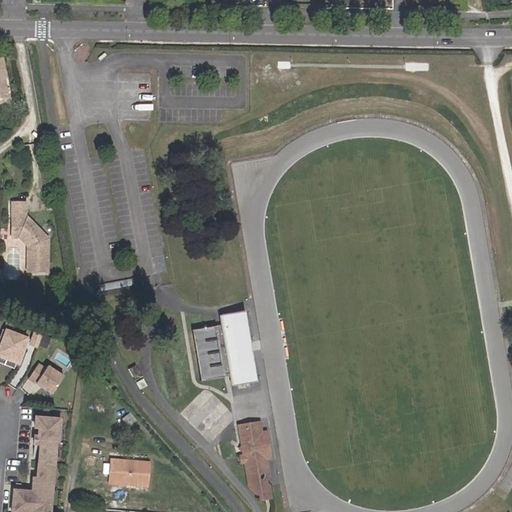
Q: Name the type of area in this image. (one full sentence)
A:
The picture captures a sports ground.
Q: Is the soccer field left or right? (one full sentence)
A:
It is on the right.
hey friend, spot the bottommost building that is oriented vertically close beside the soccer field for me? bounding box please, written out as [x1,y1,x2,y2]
[238,421,279,502]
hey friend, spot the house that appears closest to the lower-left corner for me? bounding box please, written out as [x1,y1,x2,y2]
[10,416,64,512]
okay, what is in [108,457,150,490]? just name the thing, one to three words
house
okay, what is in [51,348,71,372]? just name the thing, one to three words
swimming pool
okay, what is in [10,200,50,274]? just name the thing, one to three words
house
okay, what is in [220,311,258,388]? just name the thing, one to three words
building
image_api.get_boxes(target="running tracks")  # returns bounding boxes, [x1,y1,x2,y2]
[231,117,512,512]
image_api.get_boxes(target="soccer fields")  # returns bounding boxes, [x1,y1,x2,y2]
[264,138,497,510]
